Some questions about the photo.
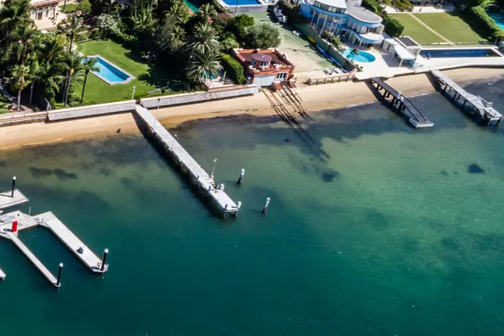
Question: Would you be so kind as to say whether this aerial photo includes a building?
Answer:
Yes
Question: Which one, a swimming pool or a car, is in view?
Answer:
swimming pool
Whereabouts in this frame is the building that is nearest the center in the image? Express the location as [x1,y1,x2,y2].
[226,49,301,97]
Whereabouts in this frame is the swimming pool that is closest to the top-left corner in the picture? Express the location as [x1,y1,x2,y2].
[77,56,137,85]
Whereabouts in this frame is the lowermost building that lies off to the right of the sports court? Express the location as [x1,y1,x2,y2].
[378,37,422,73]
